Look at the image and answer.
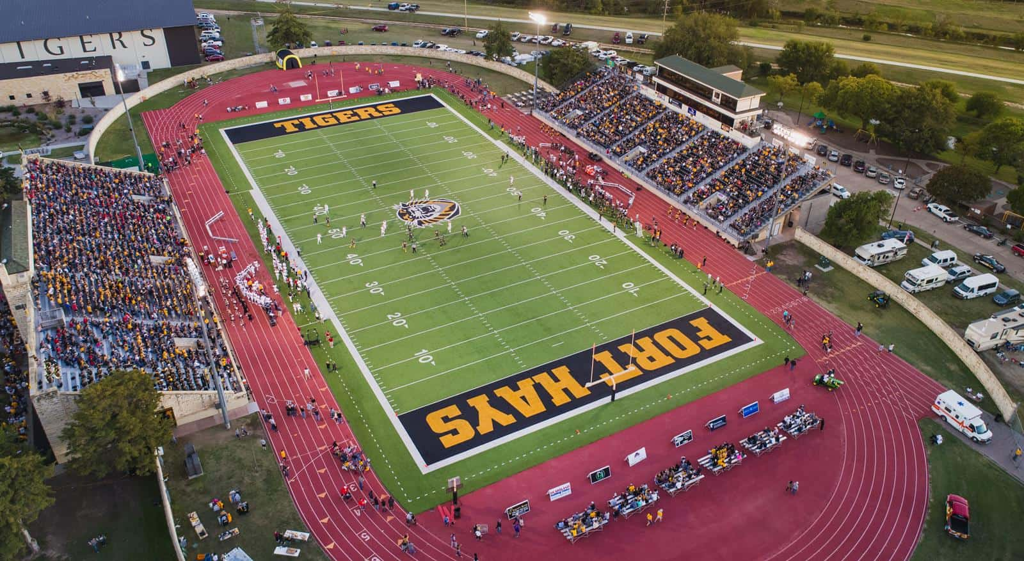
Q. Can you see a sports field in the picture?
Yes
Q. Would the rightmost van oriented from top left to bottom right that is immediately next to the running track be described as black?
No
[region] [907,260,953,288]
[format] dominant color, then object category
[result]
white camper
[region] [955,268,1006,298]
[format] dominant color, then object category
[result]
white vehicle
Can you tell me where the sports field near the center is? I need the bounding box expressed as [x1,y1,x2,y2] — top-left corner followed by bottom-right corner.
[233,107,709,416]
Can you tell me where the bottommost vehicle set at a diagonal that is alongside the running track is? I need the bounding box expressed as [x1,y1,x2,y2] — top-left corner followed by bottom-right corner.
[935,385,996,439]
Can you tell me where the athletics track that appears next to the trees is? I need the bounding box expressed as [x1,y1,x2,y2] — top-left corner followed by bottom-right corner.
[144,61,942,561]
